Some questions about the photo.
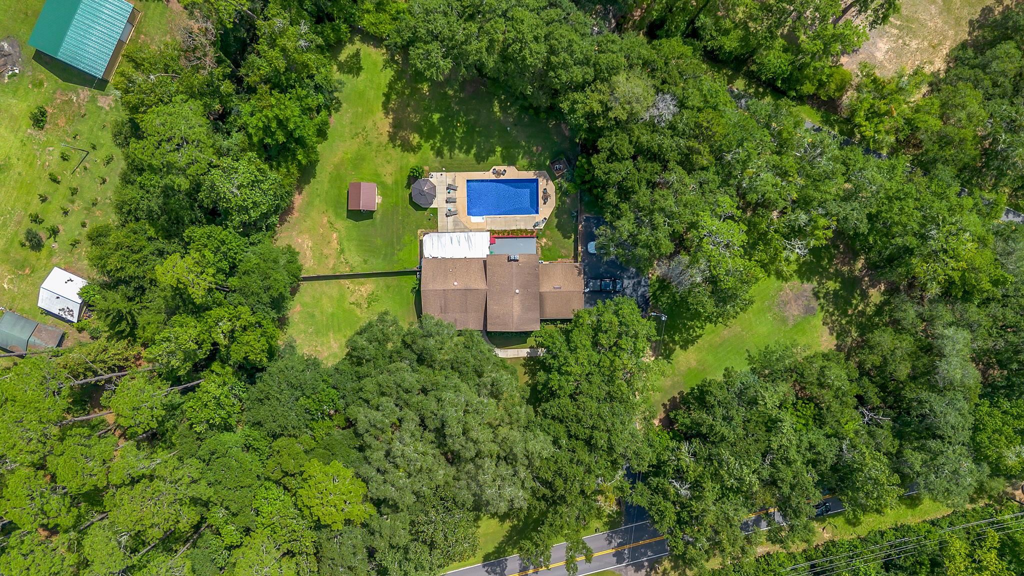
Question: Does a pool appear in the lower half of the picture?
No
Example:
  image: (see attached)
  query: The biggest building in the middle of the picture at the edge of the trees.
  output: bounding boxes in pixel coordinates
[421,254,584,332]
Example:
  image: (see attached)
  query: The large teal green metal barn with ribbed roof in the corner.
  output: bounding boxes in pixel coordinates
[29,0,146,83]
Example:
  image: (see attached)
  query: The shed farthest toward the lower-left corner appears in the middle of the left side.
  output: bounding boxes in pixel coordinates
[0,310,70,354]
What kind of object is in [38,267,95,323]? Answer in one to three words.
shed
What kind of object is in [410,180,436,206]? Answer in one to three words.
gazebo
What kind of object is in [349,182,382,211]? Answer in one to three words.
shed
